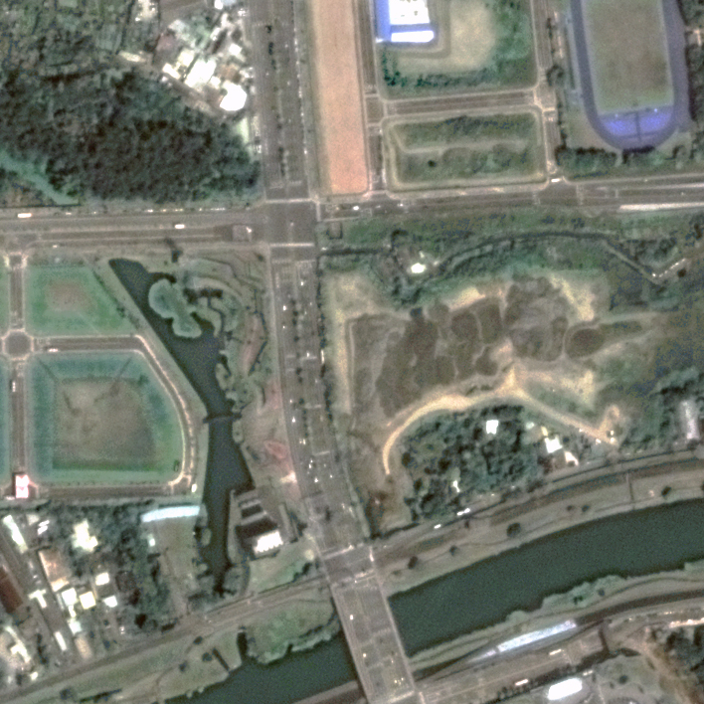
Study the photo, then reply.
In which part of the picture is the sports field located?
top right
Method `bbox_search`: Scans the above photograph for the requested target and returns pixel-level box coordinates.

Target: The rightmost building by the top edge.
[375,0,433,44]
